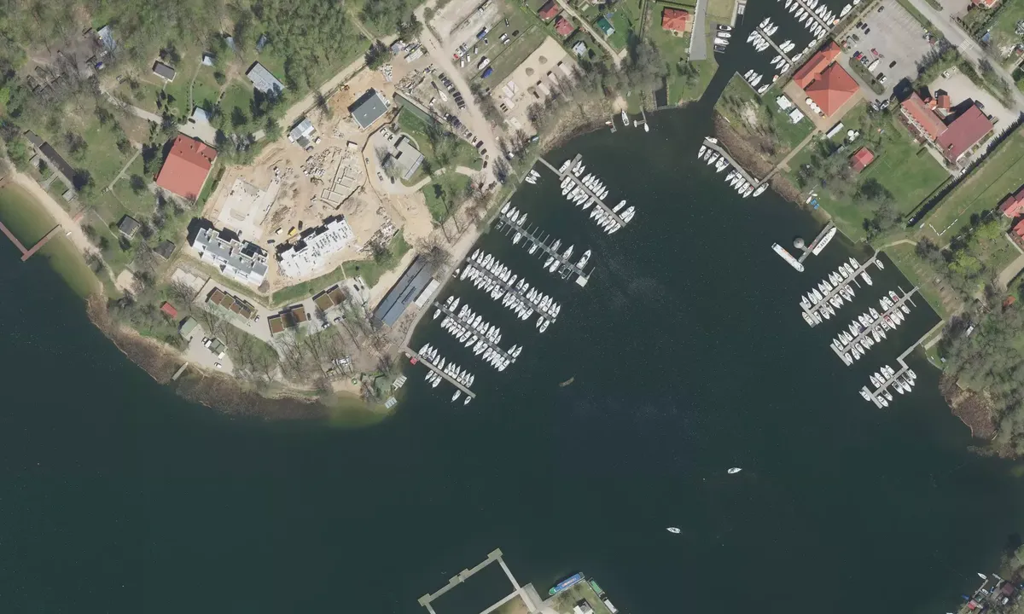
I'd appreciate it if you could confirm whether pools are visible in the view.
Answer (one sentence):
No, no pool can be seen from above.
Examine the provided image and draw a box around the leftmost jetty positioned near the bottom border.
[418,549,521,614]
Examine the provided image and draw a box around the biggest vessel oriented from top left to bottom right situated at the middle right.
[770,243,802,272]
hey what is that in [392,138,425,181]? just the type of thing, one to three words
house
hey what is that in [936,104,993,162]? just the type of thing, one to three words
building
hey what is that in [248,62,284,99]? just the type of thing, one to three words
barn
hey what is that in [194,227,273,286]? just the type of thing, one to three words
building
